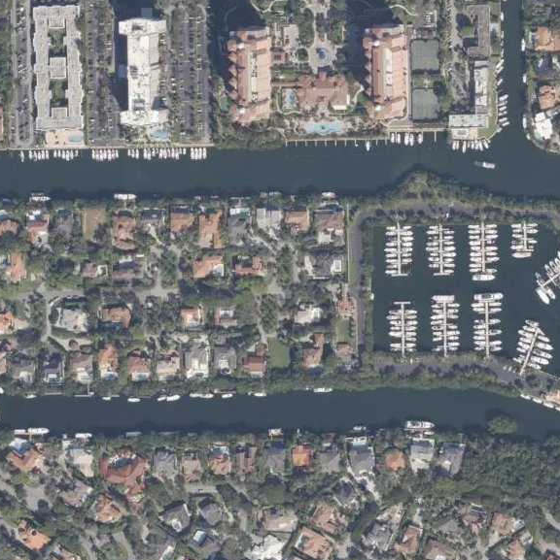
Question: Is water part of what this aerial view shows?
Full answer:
Yes, water can be seen from above here.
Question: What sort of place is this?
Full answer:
This looks like a residential area.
